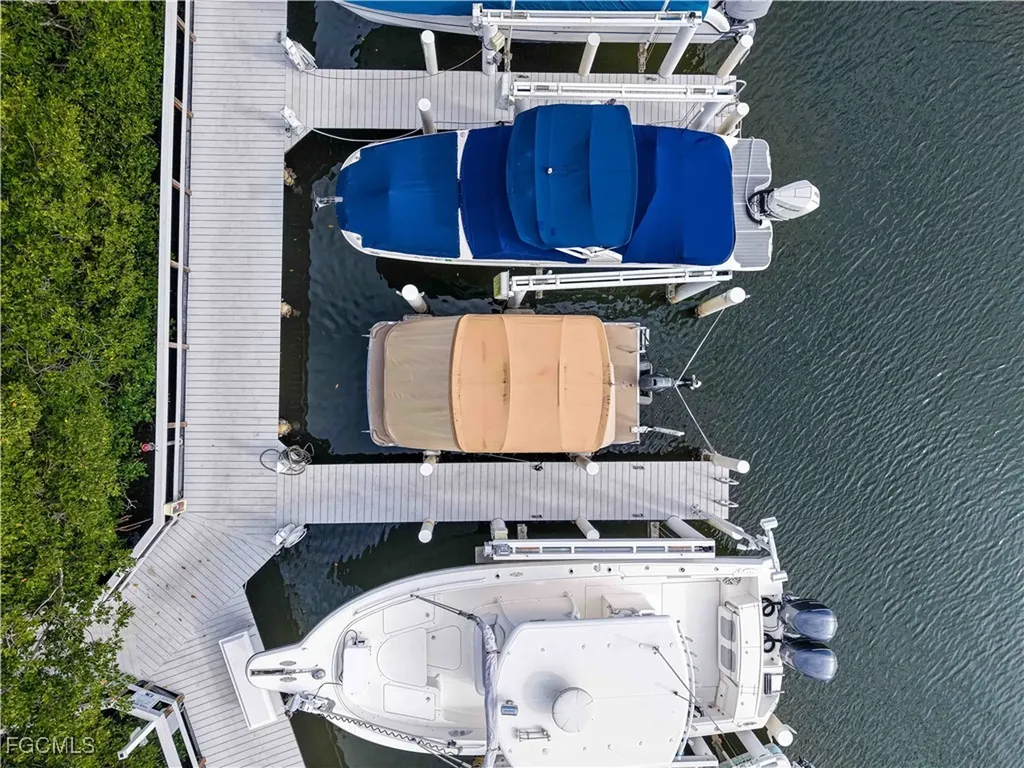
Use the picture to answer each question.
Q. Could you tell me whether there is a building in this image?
No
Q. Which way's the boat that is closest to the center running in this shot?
horizontally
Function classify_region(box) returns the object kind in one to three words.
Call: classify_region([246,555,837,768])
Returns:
boat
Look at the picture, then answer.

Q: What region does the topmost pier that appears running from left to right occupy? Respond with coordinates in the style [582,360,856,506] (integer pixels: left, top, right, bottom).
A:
[285,38,739,154]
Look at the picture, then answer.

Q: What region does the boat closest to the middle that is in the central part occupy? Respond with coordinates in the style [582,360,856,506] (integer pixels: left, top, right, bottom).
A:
[361,307,705,460]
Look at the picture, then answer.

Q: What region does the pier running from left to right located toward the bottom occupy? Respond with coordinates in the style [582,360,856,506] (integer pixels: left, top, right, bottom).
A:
[276,440,728,550]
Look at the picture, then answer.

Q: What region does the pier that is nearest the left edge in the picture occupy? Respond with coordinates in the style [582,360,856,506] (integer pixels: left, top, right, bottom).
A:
[63,0,311,768]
